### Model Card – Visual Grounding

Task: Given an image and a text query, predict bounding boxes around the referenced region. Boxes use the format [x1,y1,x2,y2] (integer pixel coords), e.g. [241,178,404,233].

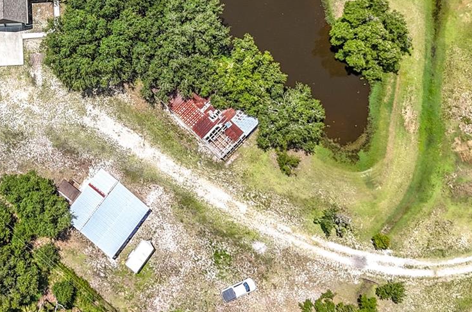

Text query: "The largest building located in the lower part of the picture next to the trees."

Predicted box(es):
[64,168,153,260]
